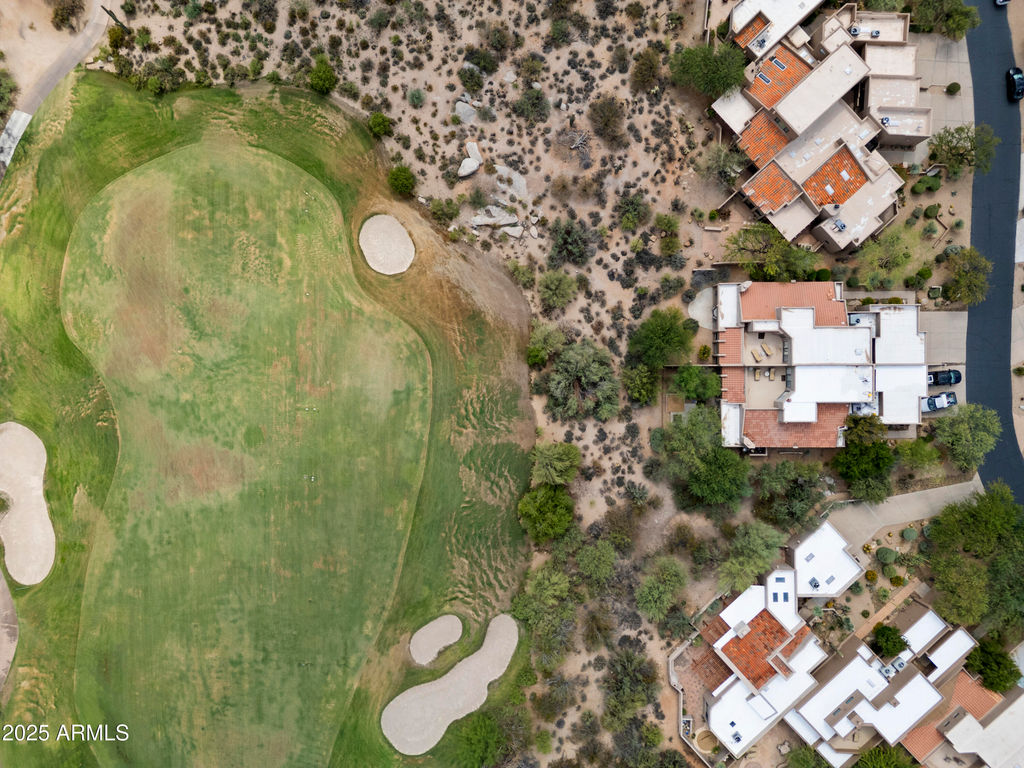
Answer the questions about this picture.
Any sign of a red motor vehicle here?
No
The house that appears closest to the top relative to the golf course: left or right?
right of it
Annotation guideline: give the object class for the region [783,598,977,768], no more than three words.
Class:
house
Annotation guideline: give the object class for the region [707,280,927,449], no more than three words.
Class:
house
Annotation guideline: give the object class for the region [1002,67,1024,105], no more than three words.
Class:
car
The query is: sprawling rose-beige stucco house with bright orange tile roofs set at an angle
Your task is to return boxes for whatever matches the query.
[706,0,932,255]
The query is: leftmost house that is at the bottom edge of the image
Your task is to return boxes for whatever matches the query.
[688,515,865,759]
